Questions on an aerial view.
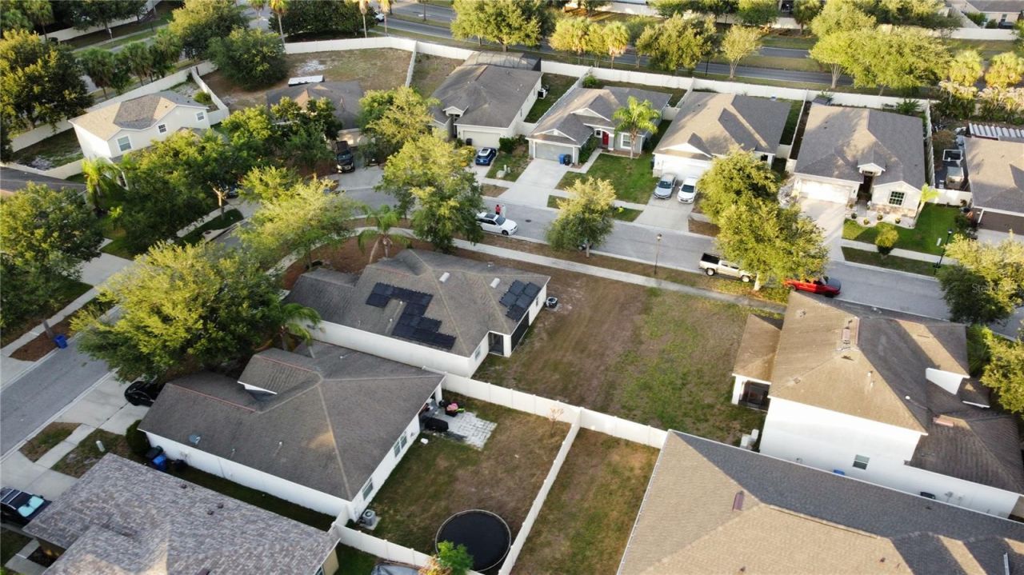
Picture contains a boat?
No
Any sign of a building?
Yes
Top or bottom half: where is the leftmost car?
bottom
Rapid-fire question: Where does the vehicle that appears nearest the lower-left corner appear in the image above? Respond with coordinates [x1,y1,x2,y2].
[0,481,50,536]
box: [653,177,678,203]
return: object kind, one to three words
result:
car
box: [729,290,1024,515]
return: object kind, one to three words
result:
house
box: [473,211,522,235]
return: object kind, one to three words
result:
car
